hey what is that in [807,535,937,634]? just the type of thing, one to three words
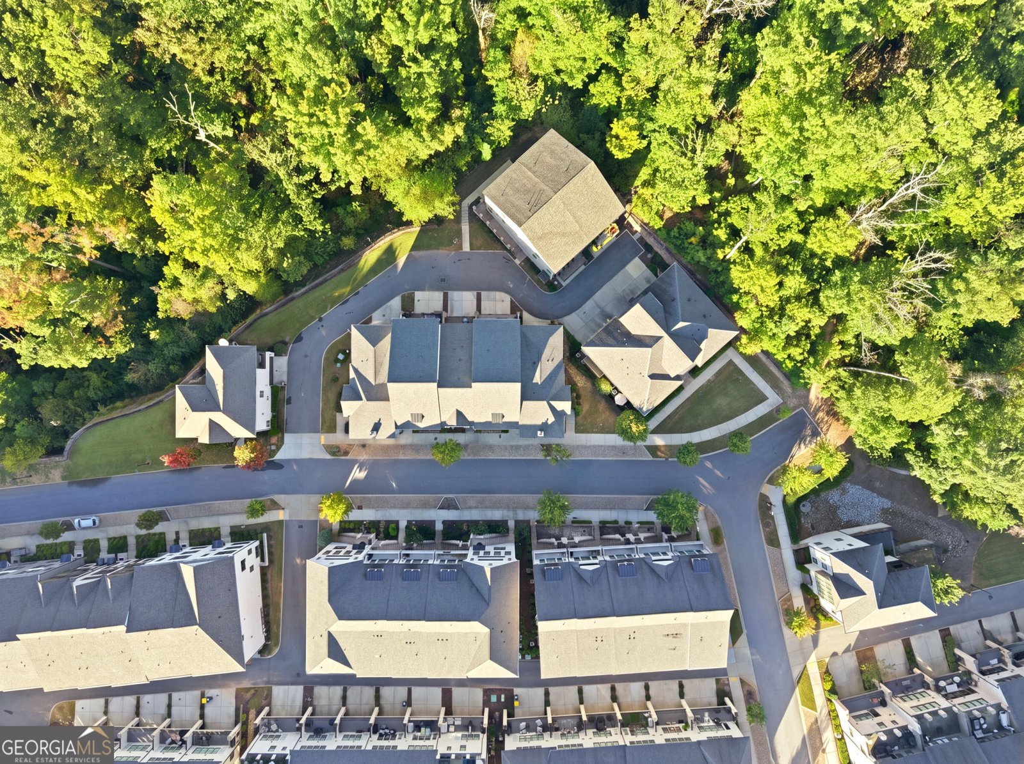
house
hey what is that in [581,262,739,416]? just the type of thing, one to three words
house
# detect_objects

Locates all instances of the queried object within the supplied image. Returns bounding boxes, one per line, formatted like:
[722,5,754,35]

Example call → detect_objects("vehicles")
[74,517,100,529]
